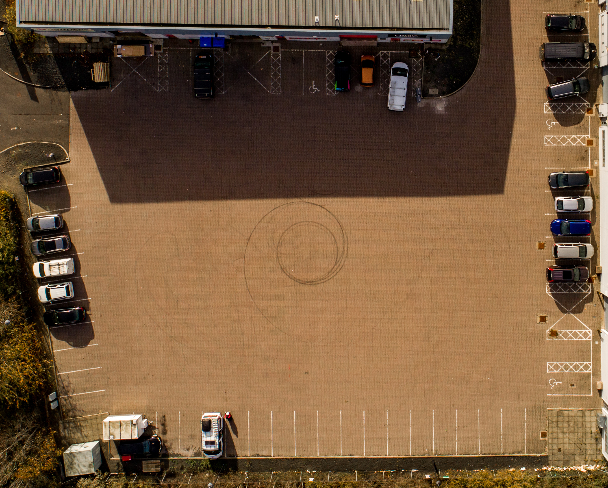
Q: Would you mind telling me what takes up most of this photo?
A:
paved ground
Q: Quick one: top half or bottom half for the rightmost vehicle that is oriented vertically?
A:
top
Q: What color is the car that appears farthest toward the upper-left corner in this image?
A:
black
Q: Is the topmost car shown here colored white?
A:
No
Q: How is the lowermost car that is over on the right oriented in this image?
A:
from side to side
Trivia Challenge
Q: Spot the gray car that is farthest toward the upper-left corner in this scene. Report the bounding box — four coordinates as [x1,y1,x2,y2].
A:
[27,214,65,234]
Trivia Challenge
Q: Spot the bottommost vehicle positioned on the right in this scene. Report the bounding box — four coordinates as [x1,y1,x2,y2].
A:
[545,263,589,284]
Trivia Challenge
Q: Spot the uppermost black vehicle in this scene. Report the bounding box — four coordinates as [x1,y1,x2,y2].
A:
[544,11,586,32]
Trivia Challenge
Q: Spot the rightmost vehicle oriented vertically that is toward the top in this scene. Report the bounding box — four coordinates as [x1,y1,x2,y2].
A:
[387,62,411,111]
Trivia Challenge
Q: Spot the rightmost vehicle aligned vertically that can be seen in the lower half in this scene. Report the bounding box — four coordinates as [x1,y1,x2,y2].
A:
[200,411,223,459]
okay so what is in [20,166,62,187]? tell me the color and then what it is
black car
